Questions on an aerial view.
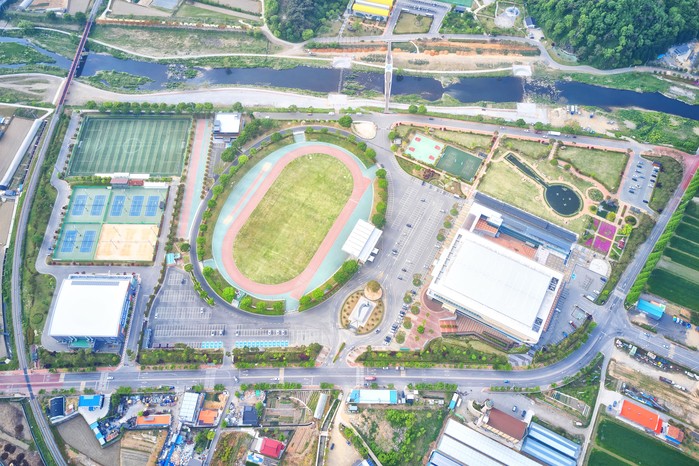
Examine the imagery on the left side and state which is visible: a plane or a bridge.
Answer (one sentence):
The one visible on the left side is a bridge.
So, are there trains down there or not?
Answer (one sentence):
No, no train is visible in the view.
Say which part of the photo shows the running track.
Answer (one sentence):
The running track appears toward the center of the photo.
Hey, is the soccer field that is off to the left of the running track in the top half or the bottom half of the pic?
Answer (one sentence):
The soccer field that is off to the left of the running track sits in the top half of the picture.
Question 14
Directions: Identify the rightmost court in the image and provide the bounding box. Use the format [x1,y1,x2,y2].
[436,145,483,182]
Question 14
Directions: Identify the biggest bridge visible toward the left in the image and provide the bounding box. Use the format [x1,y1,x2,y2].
[56,20,96,104]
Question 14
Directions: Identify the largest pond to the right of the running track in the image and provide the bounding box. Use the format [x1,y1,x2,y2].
[499,147,586,218]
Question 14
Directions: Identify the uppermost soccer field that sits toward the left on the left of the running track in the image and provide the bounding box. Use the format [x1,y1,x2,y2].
[63,115,193,181]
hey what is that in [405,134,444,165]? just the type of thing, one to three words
basketball court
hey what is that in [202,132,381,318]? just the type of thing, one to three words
running track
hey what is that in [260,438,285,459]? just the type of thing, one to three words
house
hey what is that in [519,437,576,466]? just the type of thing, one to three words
building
